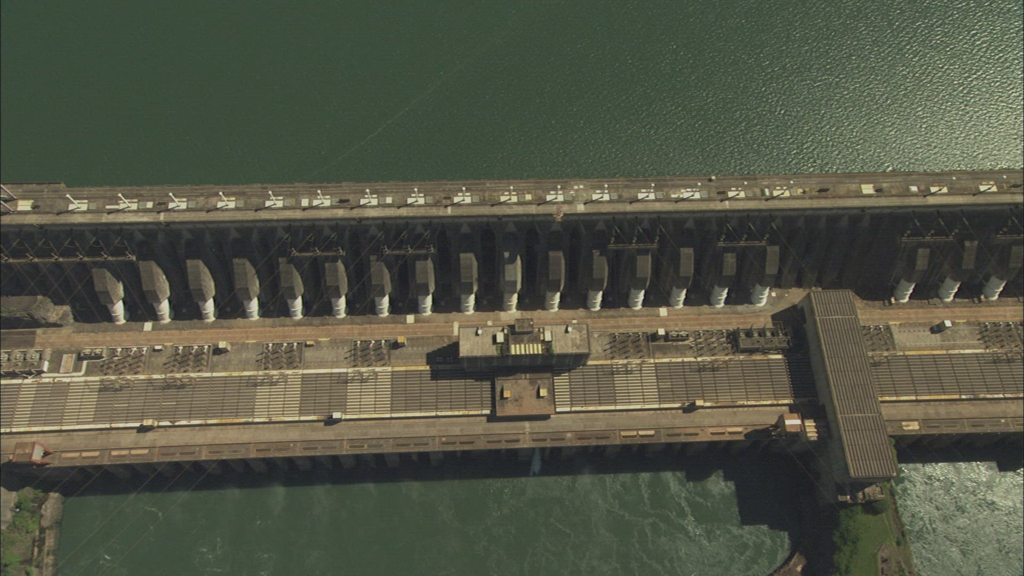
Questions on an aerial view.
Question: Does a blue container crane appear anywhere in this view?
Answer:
No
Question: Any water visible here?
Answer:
Yes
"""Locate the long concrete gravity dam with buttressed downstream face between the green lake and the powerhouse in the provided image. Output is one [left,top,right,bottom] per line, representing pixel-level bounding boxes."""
[0,169,1024,323]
